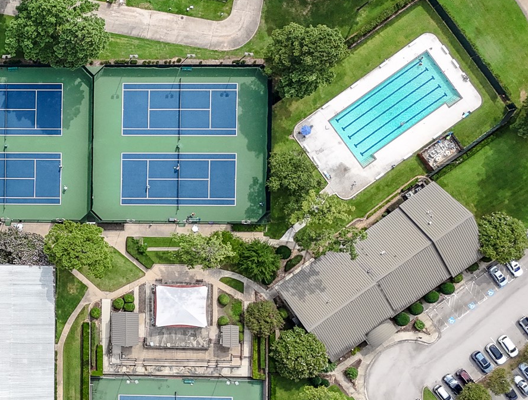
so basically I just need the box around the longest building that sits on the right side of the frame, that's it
[275,182,482,360]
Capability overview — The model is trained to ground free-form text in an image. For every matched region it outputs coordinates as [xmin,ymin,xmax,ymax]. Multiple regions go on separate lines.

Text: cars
[517,362,528,382]
[442,373,463,395]
[488,265,507,287]
[513,374,528,396]
[454,365,473,387]
[485,343,504,364]
[497,335,517,357]
[471,350,490,373]
[433,383,451,400]
[504,386,518,400]
[504,258,523,280]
